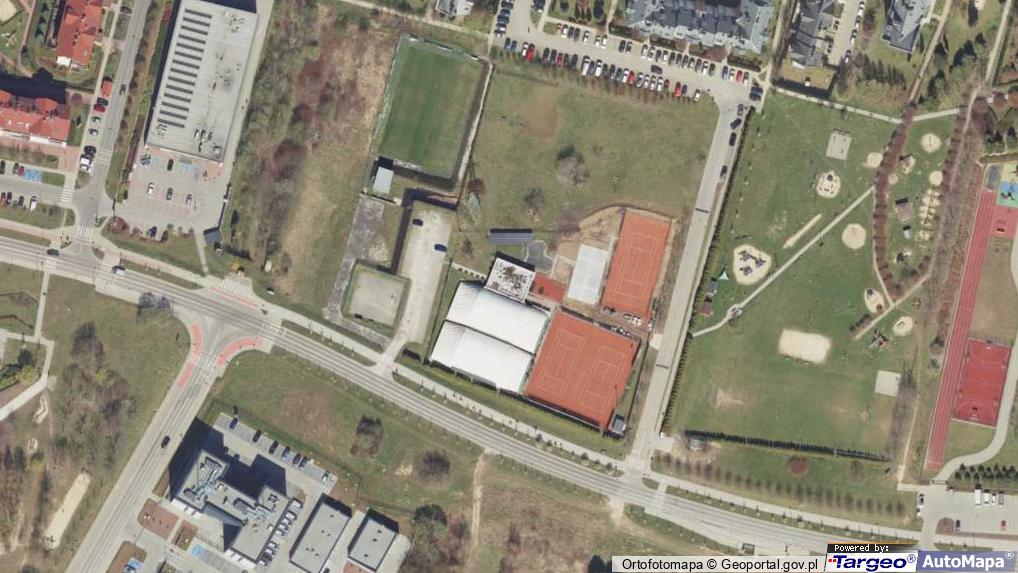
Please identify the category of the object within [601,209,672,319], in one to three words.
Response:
tennis court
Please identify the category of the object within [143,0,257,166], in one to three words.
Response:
warehouse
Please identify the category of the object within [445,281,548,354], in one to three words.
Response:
building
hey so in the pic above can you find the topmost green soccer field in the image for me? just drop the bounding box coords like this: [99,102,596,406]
[374,35,488,191]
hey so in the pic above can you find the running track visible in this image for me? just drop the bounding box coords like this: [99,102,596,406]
[924,187,998,470]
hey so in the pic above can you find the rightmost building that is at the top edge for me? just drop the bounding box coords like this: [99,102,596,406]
[879,0,933,52]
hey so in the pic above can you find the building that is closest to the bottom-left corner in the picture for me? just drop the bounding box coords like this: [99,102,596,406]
[172,450,290,568]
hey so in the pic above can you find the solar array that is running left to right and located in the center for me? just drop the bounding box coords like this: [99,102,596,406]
[490,231,534,245]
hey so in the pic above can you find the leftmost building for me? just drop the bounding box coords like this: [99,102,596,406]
[0,93,70,147]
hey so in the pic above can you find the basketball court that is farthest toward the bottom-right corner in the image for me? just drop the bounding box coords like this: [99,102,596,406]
[952,337,1013,428]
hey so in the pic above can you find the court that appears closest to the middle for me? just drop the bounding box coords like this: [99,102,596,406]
[528,272,566,303]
